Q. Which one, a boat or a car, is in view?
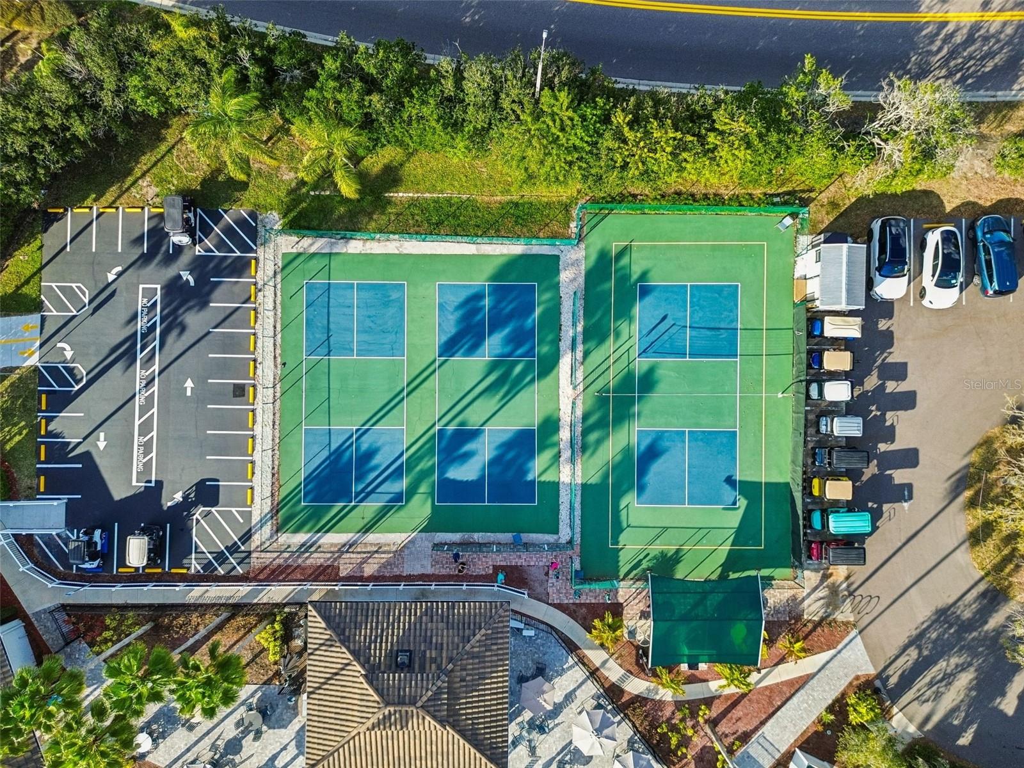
car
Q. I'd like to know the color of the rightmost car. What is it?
blue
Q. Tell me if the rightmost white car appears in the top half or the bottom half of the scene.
top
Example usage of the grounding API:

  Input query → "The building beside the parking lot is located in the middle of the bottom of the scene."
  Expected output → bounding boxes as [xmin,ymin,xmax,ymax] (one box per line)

[304,600,512,768]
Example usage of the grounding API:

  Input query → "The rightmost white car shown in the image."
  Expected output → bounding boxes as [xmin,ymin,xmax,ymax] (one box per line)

[919,227,966,309]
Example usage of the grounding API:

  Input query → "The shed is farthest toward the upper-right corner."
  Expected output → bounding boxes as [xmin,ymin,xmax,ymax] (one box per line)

[804,241,866,310]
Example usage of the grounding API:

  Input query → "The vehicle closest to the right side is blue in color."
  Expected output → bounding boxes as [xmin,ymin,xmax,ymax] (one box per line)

[968,217,1017,298]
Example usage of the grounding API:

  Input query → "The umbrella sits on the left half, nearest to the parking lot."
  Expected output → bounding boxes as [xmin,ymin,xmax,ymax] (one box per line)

[280,647,306,675]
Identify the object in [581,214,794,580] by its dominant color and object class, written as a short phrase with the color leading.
green sports court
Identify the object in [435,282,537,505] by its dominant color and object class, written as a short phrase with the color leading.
blue sports court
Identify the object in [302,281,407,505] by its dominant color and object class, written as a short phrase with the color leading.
blue sports court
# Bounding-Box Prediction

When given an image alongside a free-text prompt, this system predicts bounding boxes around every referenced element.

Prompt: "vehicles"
[808,315,862,341]
[806,536,866,564]
[808,507,871,534]
[815,412,863,438]
[807,378,855,404]
[808,475,852,501]
[163,194,198,243]
[867,217,912,300]
[67,523,106,568]
[126,521,163,568]
[807,348,857,374]
[919,227,966,309]
[968,217,1017,298]
[811,444,869,470]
